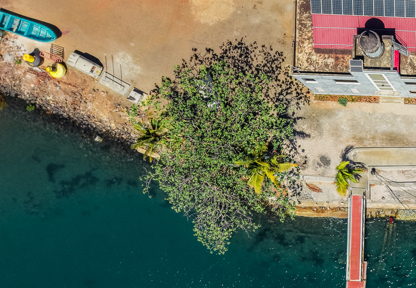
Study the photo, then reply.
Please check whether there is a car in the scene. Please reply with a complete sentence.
Yes, there is a car in the image.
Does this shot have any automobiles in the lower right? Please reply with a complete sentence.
No, no automobile can be made out in the lower right.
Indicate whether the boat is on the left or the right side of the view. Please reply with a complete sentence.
The boat appears in the left half of the scene.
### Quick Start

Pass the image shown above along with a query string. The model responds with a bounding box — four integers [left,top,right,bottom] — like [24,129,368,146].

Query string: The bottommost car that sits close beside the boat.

[61,48,103,78]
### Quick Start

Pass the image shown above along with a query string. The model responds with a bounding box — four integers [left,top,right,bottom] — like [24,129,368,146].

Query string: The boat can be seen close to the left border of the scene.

[0,10,58,42]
